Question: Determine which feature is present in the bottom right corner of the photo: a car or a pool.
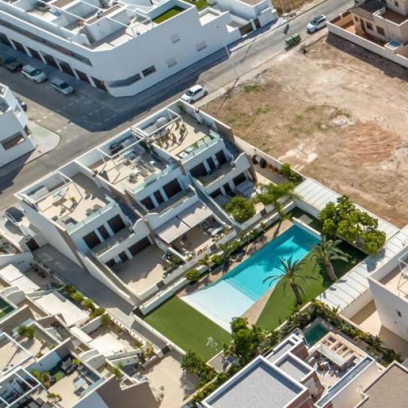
pool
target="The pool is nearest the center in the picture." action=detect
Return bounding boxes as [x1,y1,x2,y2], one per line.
[183,221,320,329]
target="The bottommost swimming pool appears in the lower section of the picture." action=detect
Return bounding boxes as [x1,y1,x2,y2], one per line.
[302,316,334,345]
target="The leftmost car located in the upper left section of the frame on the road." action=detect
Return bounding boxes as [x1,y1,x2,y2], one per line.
[0,51,21,73]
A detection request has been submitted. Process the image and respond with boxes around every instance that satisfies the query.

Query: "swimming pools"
[183,221,320,329]
[302,316,334,345]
